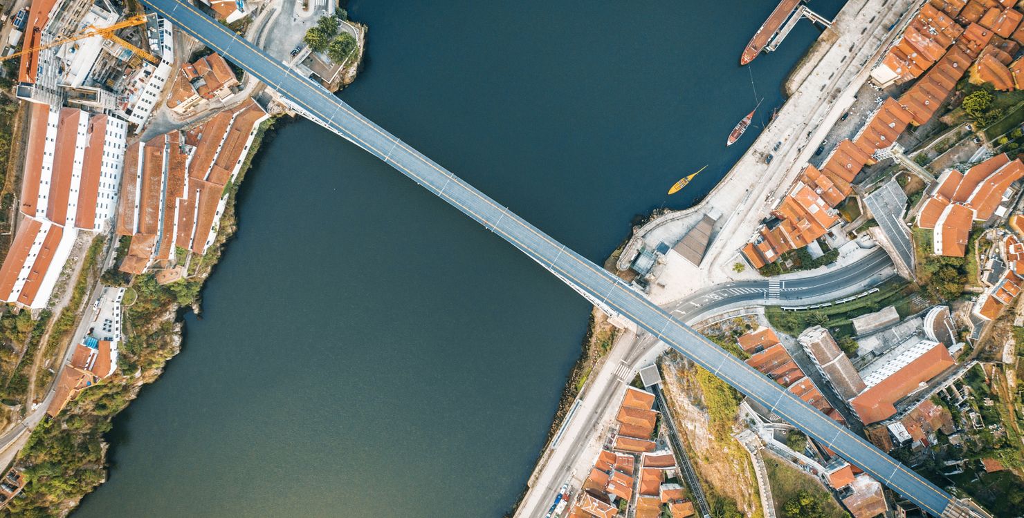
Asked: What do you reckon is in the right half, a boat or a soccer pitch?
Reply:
boat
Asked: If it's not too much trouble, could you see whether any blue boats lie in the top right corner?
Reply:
No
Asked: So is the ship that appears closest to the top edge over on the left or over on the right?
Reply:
right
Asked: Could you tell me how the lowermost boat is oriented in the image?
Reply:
diagonally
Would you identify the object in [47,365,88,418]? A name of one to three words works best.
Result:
house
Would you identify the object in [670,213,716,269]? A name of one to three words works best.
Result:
building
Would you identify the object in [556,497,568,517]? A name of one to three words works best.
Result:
vehicle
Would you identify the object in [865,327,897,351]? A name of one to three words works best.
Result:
shed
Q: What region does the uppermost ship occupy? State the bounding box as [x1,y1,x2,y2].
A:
[742,0,801,65]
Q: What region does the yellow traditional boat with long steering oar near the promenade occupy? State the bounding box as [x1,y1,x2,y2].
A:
[668,166,708,194]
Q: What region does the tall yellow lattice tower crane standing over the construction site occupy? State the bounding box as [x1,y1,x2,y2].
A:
[0,16,167,67]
